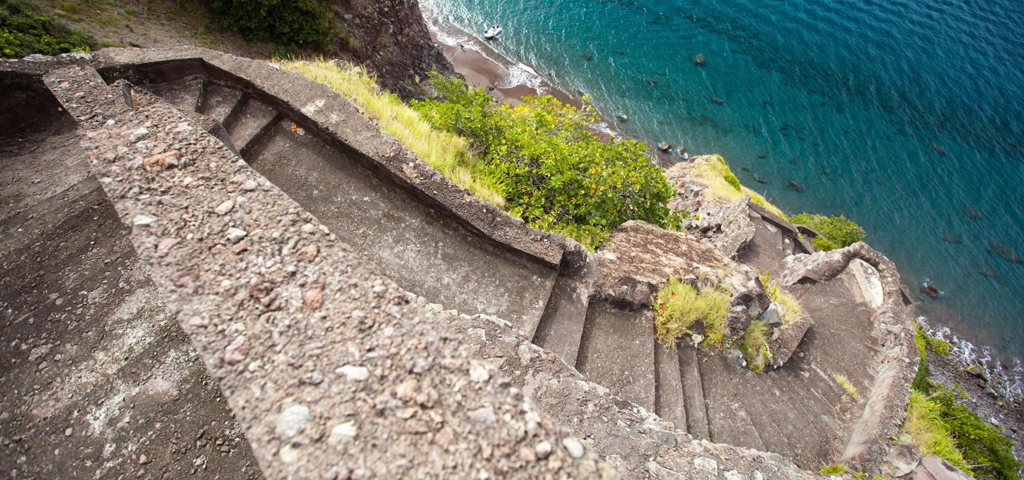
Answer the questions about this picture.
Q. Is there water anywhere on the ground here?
Yes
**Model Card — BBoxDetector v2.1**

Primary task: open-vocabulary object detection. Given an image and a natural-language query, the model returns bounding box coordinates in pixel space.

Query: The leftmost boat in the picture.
[482,25,502,38]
